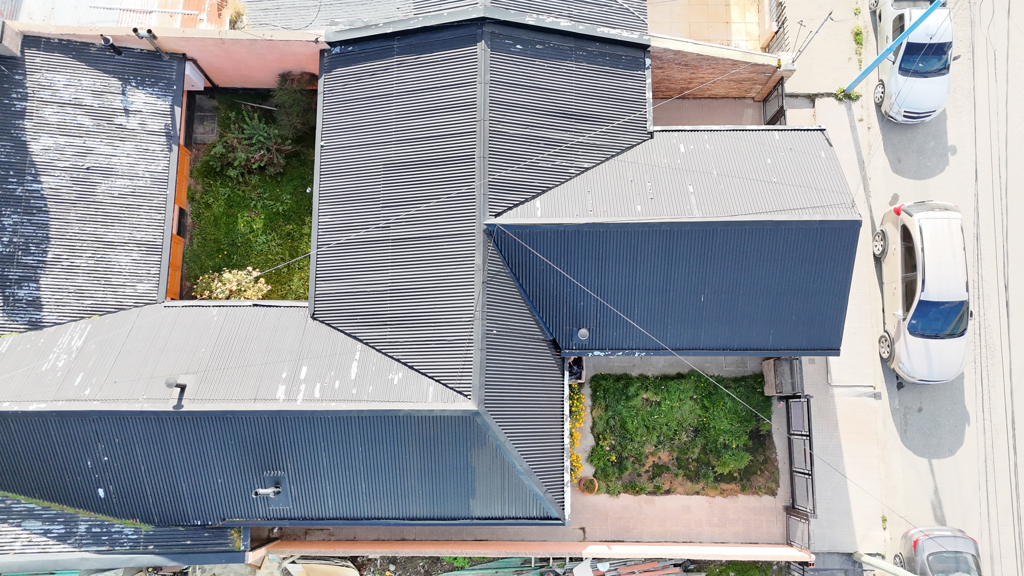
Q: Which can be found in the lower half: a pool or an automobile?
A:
automobile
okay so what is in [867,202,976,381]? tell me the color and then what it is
white car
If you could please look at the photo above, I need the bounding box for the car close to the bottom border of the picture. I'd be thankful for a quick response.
[891,530,985,576]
